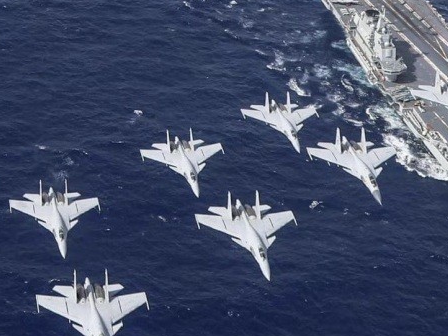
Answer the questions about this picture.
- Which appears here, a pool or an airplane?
airplane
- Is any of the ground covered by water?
Yes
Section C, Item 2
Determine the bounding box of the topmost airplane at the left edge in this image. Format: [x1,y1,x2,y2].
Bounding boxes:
[9,177,101,258]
